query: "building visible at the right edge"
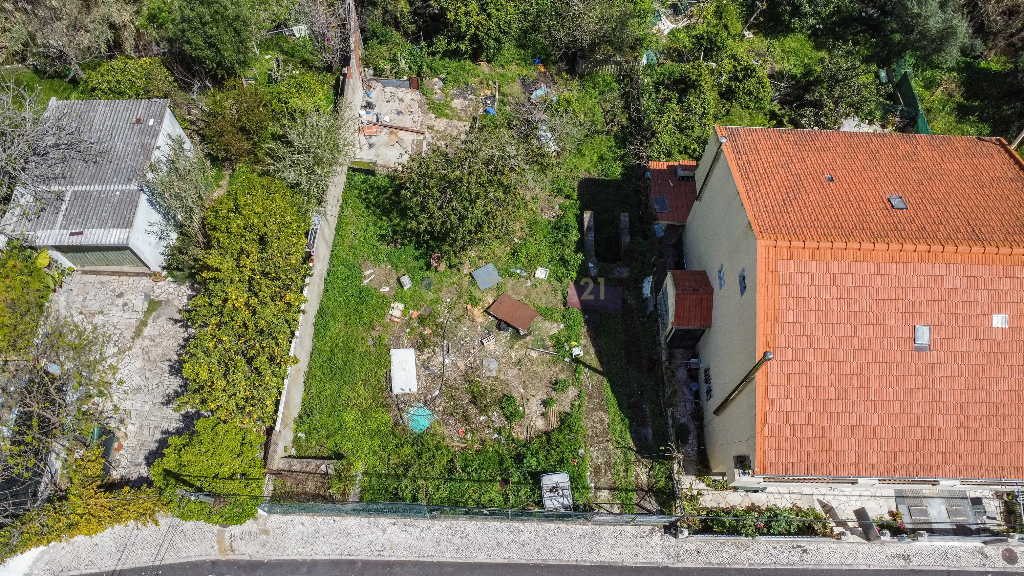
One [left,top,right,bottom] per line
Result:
[685,125,1024,504]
